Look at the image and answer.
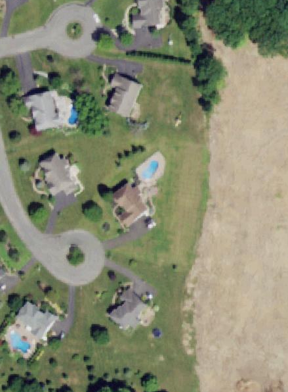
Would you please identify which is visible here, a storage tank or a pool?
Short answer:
pool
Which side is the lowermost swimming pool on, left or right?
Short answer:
left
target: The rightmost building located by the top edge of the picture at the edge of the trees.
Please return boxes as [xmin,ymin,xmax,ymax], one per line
[131,0,166,30]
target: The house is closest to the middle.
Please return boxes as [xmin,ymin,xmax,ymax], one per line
[110,182,152,230]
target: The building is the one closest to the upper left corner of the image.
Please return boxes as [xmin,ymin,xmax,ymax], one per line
[22,91,63,134]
